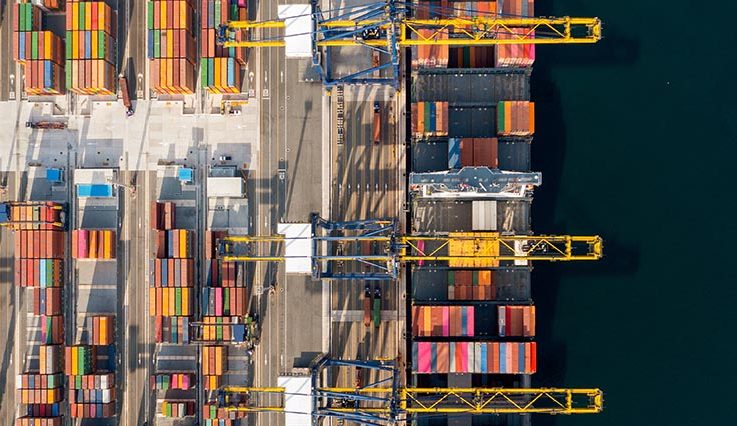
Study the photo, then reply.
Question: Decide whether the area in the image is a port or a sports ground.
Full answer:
The area seen from above is a port.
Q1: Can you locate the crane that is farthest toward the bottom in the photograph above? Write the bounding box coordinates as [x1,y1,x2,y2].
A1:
[216,349,606,426]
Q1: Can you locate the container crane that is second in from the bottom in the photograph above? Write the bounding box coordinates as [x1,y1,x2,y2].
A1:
[216,214,606,286]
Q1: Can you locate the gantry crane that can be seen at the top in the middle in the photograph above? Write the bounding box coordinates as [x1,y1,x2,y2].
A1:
[216,0,606,99]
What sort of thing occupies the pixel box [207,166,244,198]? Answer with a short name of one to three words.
shed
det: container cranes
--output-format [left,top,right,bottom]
[216,349,606,426]
[216,0,606,99]
[216,214,606,286]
